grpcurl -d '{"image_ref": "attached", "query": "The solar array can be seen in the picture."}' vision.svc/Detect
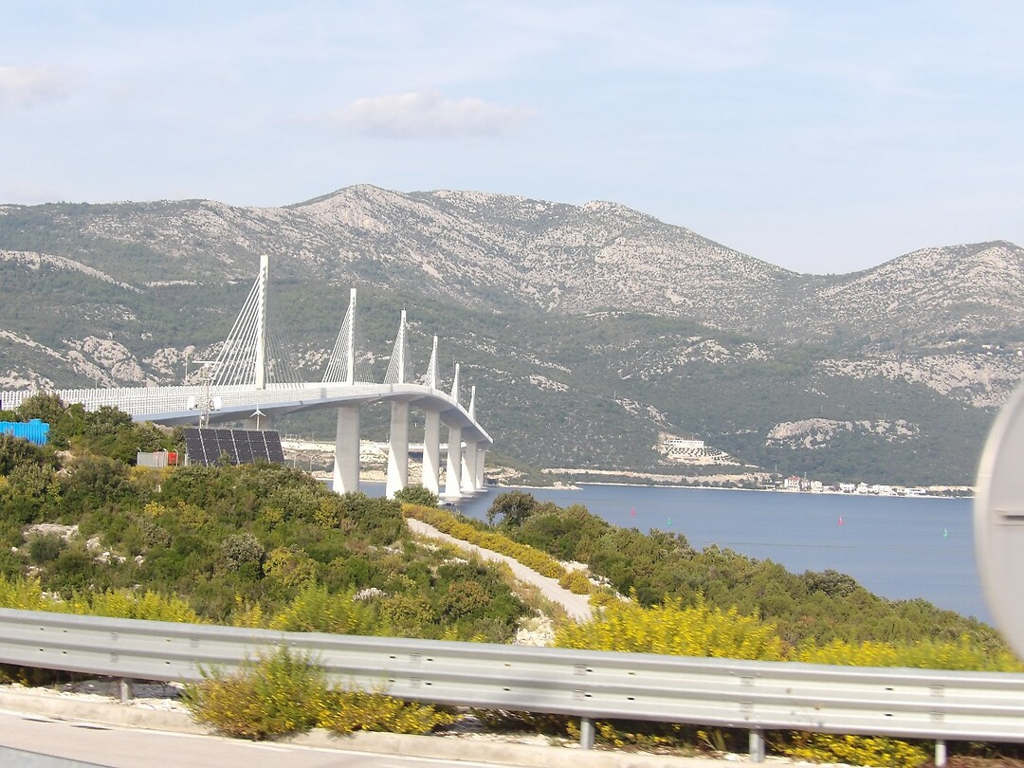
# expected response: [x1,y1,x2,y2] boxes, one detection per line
[180,426,286,473]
